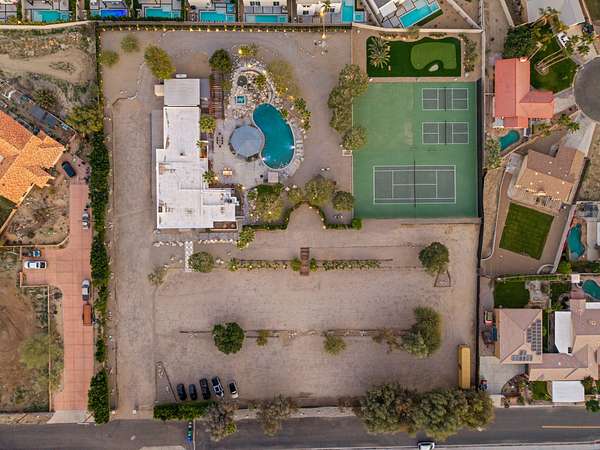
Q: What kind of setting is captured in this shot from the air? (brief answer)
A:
residential area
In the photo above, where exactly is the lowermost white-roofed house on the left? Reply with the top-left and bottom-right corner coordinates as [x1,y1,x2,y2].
[151,107,238,230]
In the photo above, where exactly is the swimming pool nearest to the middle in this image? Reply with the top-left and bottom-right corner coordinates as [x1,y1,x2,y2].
[252,103,296,169]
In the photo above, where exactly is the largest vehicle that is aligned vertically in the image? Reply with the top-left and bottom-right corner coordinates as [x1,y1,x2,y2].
[457,344,471,388]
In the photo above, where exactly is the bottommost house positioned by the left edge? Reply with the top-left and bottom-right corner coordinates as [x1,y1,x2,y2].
[0,111,70,207]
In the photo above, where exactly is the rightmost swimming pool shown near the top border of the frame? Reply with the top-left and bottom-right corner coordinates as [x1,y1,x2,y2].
[399,2,439,28]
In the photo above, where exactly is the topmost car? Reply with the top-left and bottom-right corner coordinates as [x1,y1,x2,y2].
[63,161,76,178]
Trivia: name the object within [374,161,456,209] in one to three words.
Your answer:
tennis court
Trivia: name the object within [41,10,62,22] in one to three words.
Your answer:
swimming pool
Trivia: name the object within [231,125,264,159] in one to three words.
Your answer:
gazebo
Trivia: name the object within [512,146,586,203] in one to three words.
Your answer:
house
